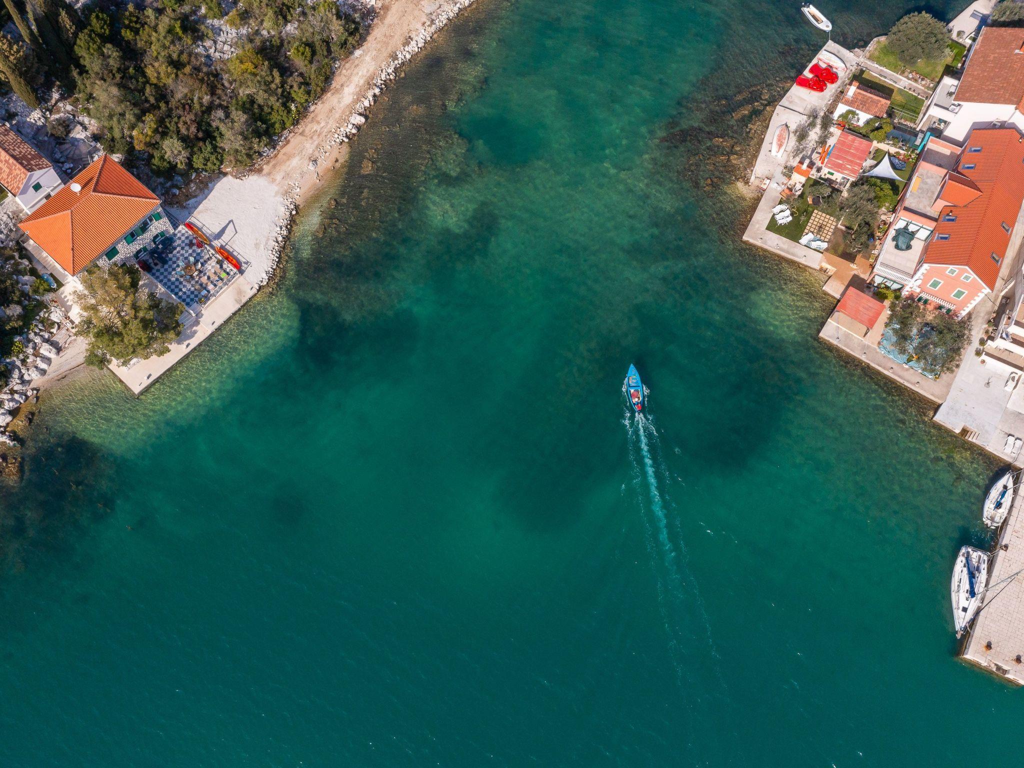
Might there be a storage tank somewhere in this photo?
No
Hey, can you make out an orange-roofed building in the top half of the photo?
Yes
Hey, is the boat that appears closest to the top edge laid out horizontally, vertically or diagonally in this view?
diagonally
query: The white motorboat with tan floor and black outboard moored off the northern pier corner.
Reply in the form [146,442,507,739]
[799,2,831,34]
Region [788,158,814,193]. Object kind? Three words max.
house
